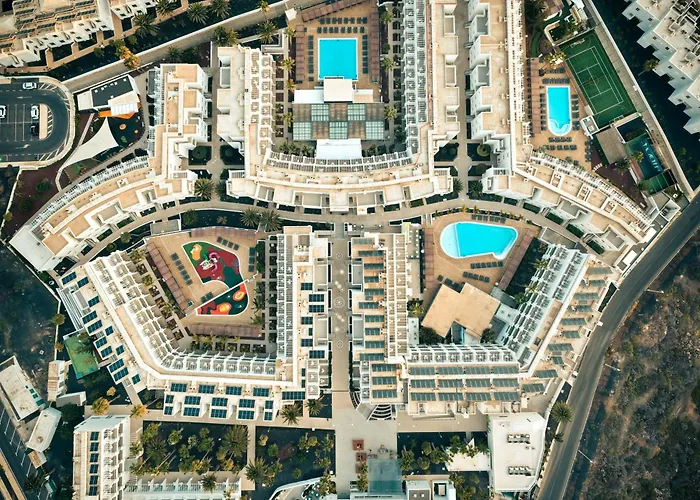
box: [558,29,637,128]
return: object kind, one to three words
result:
tennis court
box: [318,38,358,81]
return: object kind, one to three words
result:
swimming pool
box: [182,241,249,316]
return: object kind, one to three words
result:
playground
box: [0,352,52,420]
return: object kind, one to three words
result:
building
